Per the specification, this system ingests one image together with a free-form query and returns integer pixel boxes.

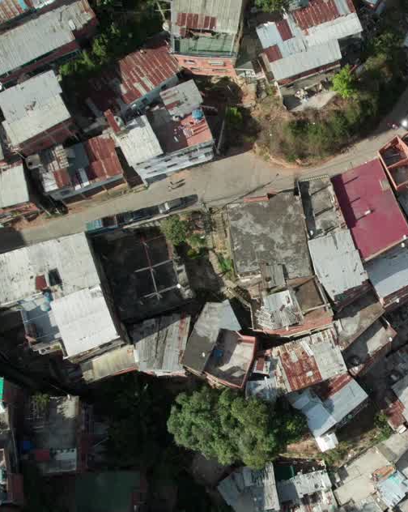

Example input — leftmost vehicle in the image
[86,208,131,232]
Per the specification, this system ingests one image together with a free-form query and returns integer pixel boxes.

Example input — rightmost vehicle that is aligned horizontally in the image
[156,190,202,216]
